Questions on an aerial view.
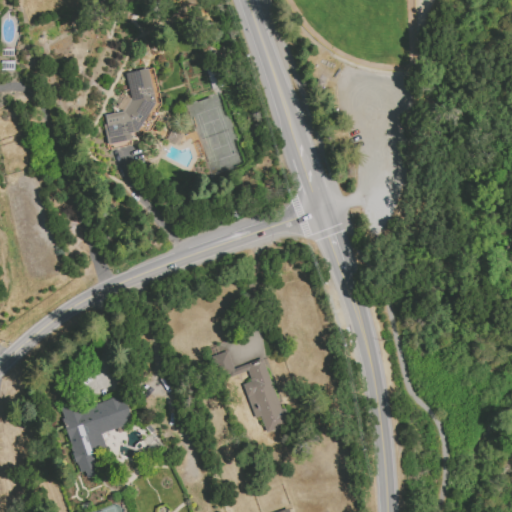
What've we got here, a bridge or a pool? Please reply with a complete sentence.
It is a pool that can be seen here.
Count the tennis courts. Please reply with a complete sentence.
The count comes to 1 tennis court.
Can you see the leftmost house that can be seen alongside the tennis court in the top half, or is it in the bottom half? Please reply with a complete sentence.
Seen from above, the leftmost house that can be seen alongside the tennis court lies in the top half of the view.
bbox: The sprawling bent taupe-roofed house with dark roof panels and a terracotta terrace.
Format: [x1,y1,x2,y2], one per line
[104,68,162,140]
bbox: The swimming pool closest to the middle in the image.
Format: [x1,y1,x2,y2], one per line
[146,140,197,170]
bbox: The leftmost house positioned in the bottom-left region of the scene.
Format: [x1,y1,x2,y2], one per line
[61,400,128,478]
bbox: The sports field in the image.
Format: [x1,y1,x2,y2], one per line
[288,0,416,71]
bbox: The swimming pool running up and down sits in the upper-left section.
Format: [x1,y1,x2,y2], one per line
[2,13,18,48]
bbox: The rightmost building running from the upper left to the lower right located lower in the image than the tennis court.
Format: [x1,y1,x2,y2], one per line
[210,347,282,428]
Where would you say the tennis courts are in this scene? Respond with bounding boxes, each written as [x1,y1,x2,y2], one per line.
[187,94,242,174]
